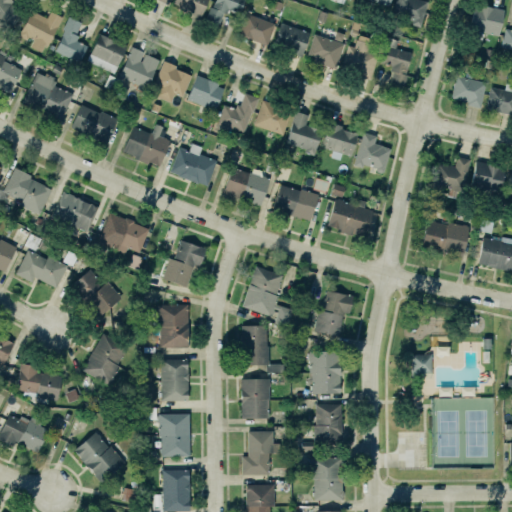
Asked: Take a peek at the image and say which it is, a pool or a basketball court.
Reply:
pool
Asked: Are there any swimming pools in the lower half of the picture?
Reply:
Yes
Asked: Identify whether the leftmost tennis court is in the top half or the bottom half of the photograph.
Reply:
bottom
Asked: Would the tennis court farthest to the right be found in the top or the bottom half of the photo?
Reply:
bottom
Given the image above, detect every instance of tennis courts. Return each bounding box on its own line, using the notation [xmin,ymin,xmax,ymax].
[433,398,464,468]
[464,398,494,468]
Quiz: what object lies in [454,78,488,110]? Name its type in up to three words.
house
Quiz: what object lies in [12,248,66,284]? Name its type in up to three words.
house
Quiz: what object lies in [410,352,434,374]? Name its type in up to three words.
building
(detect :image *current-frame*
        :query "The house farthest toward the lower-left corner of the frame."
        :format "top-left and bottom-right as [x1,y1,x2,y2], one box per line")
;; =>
[0,412,48,454]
